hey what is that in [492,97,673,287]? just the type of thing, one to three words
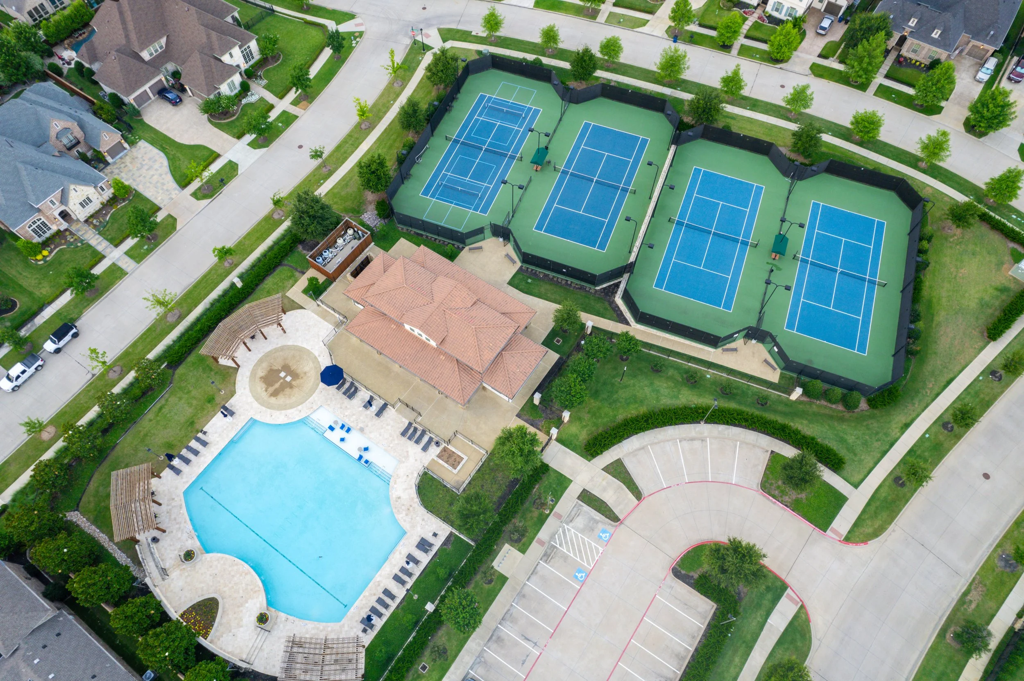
tennis court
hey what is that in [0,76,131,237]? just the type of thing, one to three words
house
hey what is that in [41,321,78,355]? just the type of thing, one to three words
car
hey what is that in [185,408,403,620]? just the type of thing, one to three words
swimming pool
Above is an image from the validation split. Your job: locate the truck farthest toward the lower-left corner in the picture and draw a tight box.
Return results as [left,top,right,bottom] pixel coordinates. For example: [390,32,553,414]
[0,352,46,395]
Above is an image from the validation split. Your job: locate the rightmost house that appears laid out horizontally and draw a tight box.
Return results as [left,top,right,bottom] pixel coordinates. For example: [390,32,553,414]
[869,0,1021,62]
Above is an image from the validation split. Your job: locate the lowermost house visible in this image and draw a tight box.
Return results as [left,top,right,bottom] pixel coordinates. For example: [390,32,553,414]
[0,557,142,681]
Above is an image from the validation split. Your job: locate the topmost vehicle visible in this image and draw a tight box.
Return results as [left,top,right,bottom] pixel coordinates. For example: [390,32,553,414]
[818,13,835,33]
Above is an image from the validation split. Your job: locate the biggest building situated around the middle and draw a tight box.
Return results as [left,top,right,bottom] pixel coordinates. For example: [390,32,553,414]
[343,243,549,406]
